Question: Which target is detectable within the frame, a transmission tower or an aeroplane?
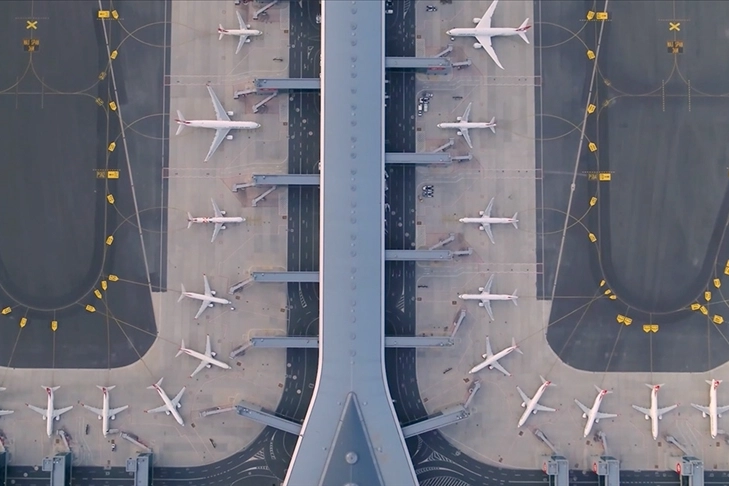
aeroplane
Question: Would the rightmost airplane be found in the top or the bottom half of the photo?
bottom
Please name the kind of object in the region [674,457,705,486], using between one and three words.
building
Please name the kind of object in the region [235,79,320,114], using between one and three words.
jet bridge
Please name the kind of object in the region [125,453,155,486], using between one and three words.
building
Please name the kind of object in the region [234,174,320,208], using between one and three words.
jet bridge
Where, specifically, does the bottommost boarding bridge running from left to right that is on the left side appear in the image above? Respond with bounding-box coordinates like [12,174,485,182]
[200,399,301,434]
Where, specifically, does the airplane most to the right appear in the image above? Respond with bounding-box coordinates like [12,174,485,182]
[691,379,729,439]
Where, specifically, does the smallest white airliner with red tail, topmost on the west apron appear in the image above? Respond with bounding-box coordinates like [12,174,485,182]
[217,11,263,53]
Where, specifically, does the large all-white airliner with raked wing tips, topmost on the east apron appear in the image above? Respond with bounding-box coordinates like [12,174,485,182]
[446,0,532,68]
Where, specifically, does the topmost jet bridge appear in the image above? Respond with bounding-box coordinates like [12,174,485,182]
[235,0,321,23]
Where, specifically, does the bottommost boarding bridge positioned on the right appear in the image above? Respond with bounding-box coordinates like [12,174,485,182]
[402,381,479,438]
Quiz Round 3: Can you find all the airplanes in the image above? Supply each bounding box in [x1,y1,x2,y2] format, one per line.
[458,198,519,243]
[517,377,556,427]
[691,379,729,439]
[147,379,186,425]
[633,387,679,440]
[173,84,261,161]
[82,386,128,436]
[458,274,519,320]
[575,387,618,437]
[437,102,497,148]
[446,0,532,68]
[187,197,246,243]
[177,335,231,379]
[26,386,73,438]
[182,275,232,319]
[217,11,263,53]
[468,337,520,378]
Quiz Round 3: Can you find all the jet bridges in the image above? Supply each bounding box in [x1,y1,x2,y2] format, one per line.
[200,399,301,434]
[234,174,320,208]
[385,312,466,347]
[235,0,321,23]
[385,233,473,260]
[229,337,319,359]
[385,44,473,75]
[235,79,320,114]
[229,272,320,295]
[402,381,479,438]
[385,137,473,166]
